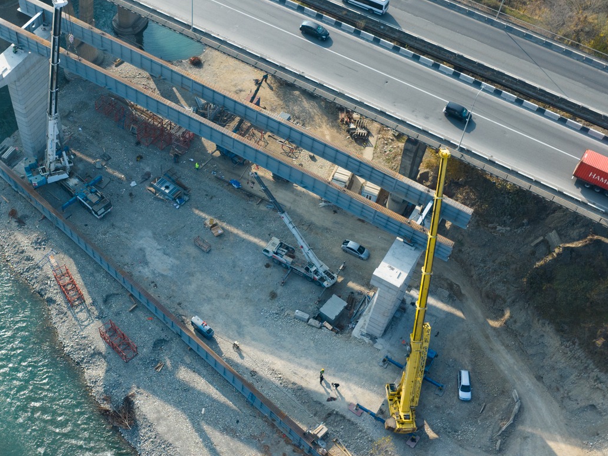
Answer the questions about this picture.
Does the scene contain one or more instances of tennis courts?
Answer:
No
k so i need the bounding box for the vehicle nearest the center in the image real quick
[341,239,370,261]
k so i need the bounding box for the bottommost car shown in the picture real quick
[457,368,476,400]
